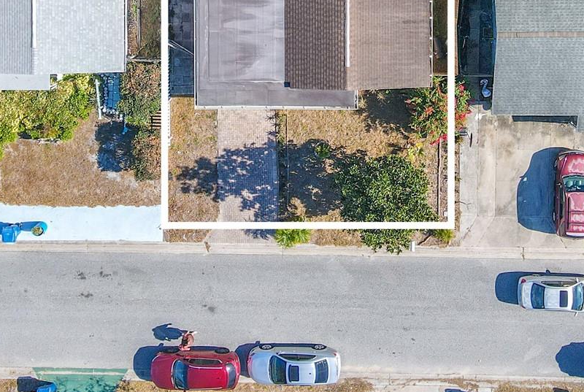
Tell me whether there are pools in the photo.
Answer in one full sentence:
No, I find no pool anywhere in the image.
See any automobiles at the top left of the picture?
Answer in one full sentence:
No, at the top left of the picture there is no automobile.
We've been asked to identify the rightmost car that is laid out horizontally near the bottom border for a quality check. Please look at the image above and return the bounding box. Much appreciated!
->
[246,343,341,385]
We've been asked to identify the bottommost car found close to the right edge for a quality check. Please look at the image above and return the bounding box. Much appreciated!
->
[517,271,584,312]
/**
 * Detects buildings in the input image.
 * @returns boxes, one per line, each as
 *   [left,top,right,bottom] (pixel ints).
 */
[493,0,584,132]
[0,0,131,90]
[193,0,435,111]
